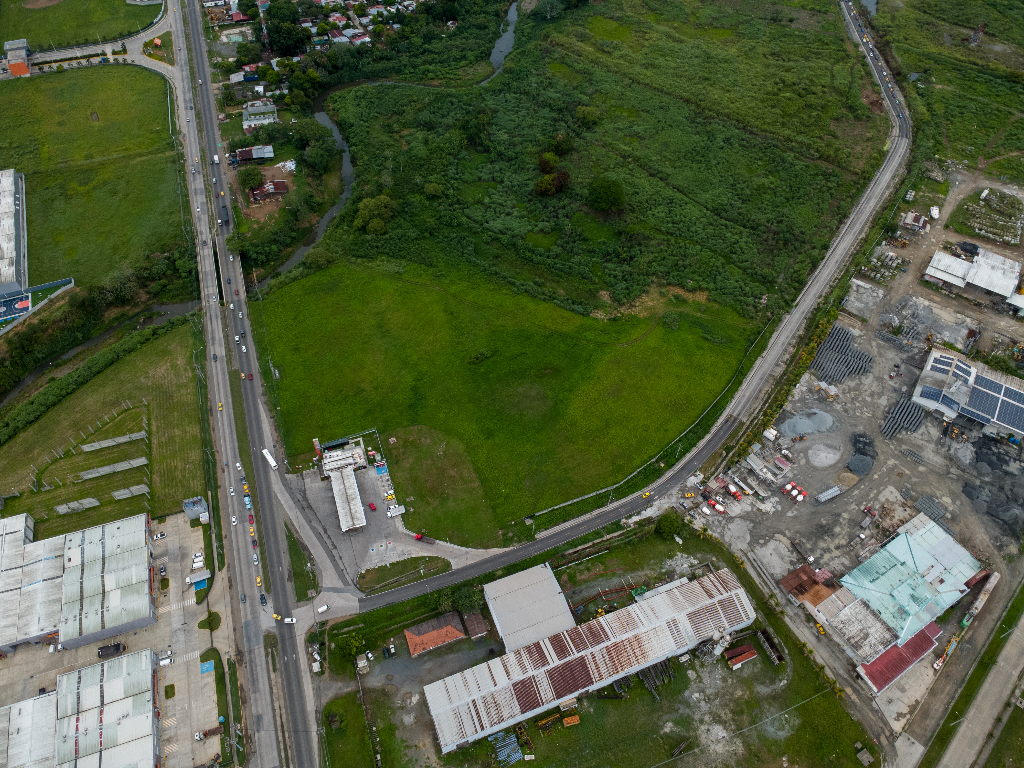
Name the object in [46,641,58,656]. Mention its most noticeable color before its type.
white vehicle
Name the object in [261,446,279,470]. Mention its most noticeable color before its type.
white vehicle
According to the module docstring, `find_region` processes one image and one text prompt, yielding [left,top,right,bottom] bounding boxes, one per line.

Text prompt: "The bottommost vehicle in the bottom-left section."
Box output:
[197,725,220,738]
